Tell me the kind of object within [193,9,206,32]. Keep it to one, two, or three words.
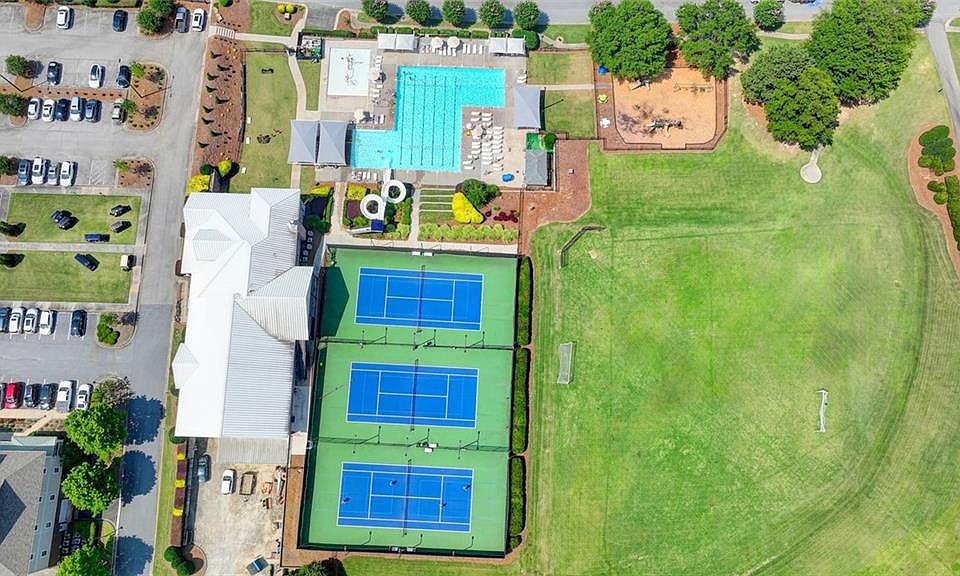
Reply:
vehicle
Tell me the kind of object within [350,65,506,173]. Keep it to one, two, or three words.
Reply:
swimming pool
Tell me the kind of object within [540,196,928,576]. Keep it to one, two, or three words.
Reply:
sports field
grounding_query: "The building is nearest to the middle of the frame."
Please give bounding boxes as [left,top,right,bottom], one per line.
[524,150,548,189]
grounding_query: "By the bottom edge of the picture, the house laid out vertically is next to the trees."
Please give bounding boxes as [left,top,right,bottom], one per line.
[0,432,63,576]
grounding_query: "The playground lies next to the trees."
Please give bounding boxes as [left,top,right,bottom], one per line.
[597,66,728,149]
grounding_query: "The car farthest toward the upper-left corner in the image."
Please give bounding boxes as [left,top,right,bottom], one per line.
[56,7,71,29]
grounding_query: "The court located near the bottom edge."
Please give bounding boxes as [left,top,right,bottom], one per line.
[301,442,508,555]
